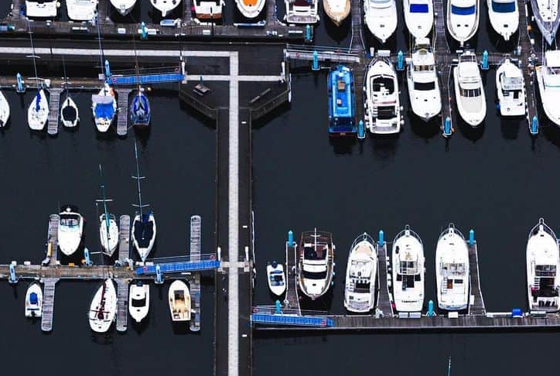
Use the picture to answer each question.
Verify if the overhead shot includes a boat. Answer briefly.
Yes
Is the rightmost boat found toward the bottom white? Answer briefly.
Yes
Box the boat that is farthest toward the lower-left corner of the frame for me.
[24,282,43,318]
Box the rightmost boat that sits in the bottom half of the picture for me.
[525,222,560,314]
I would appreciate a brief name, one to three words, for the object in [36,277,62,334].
pier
